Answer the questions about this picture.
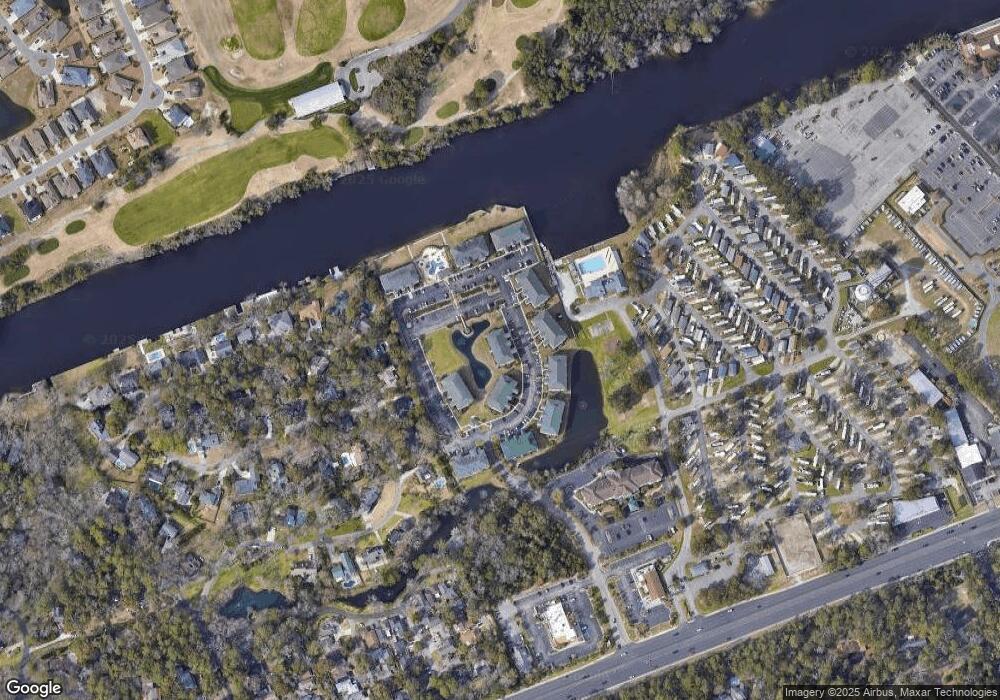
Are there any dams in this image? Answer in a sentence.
No, the frame has no dam in it.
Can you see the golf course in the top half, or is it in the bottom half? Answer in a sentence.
You can find the golf course in the top half.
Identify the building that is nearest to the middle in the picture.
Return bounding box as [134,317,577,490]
[483,328,519,369]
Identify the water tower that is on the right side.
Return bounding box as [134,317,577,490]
[854,283,875,312]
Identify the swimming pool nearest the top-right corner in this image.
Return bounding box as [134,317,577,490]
[574,247,619,284]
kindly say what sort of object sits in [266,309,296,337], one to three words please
house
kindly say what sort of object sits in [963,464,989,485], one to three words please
building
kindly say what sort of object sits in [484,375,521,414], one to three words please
building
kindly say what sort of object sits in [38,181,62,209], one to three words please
house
